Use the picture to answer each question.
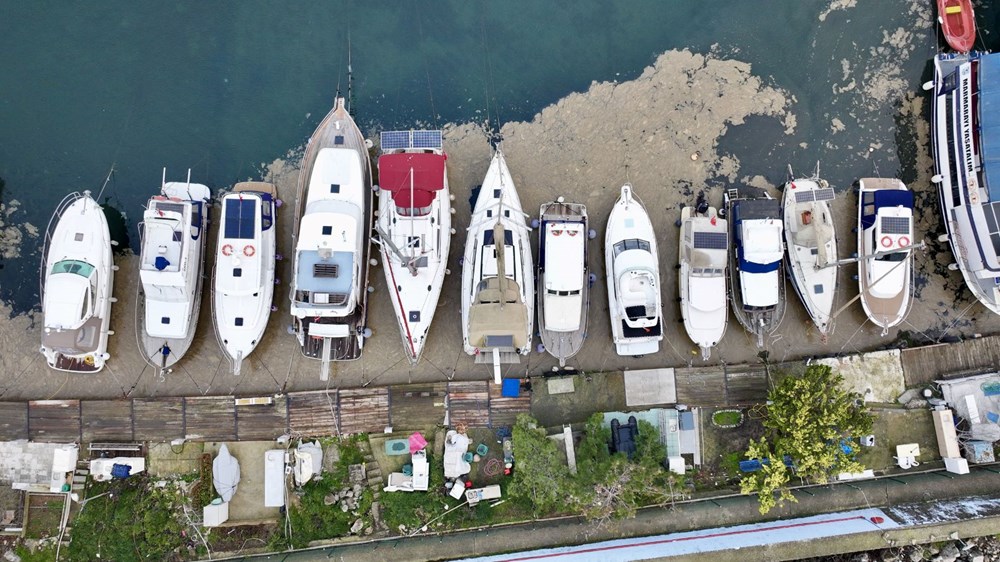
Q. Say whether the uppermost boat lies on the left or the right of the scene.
right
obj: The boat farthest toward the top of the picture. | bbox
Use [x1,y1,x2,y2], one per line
[936,0,982,53]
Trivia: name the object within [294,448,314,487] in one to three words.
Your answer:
boat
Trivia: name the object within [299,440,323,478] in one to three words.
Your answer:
boat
